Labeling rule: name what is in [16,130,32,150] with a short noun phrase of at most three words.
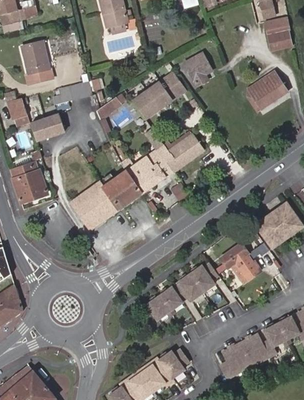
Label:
swimming pool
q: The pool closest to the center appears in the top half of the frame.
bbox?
[110,110,134,128]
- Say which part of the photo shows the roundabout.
bottom left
